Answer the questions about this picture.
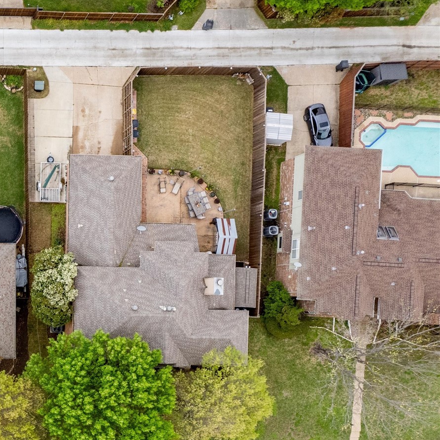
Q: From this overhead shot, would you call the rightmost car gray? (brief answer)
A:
Yes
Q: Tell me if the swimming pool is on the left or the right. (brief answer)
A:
right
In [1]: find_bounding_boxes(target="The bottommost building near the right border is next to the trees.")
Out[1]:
[268,145,440,328]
